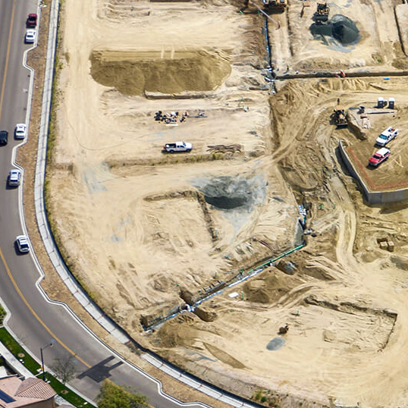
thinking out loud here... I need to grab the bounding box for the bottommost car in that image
[15,237,30,253]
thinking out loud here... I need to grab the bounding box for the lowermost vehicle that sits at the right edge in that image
[367,147,392,165]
